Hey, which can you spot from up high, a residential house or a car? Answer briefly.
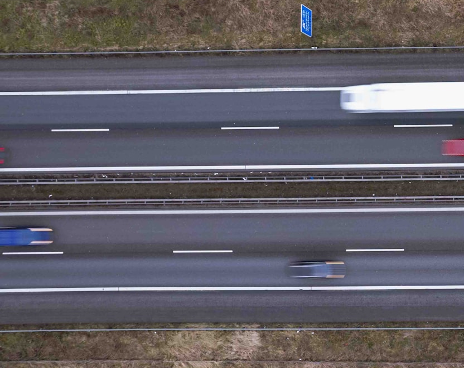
car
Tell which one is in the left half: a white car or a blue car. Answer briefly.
blue car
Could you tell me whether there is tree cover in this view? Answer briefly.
No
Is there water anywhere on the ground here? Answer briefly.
No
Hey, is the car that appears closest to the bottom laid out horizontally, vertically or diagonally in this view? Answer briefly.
horizontally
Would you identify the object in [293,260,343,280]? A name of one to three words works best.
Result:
car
